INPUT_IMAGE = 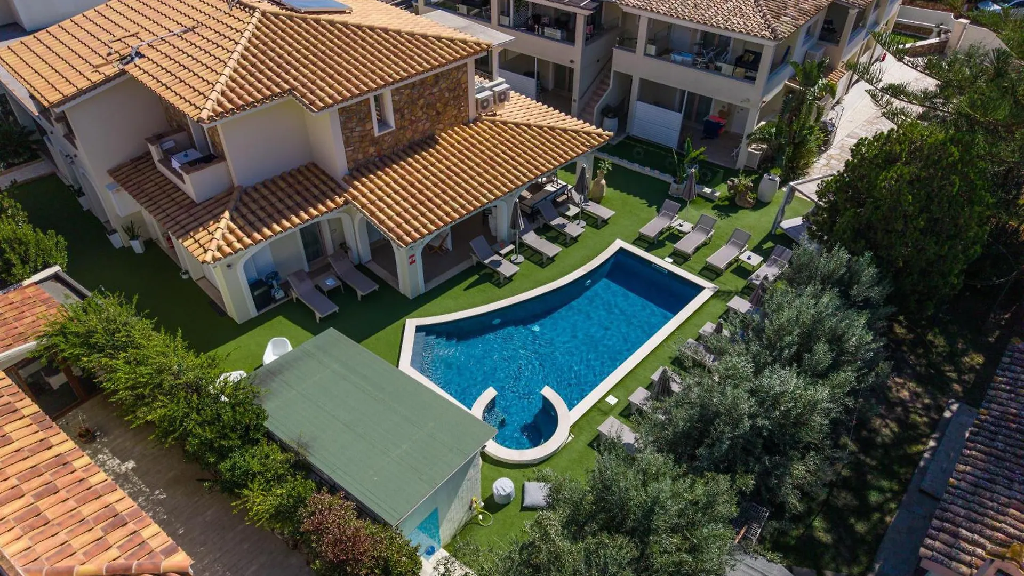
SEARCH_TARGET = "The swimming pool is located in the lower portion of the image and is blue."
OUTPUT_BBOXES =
[399,239,718,461]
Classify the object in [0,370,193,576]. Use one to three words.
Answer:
house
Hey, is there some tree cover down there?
Yes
